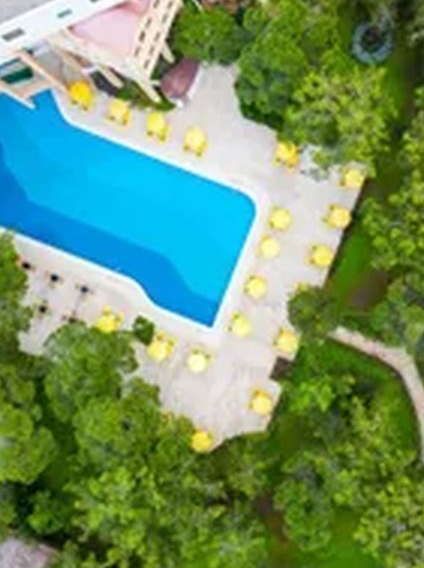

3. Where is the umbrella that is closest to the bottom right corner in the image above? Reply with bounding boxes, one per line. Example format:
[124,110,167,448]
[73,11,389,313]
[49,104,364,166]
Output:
[249,389,273,412]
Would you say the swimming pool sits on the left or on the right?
left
